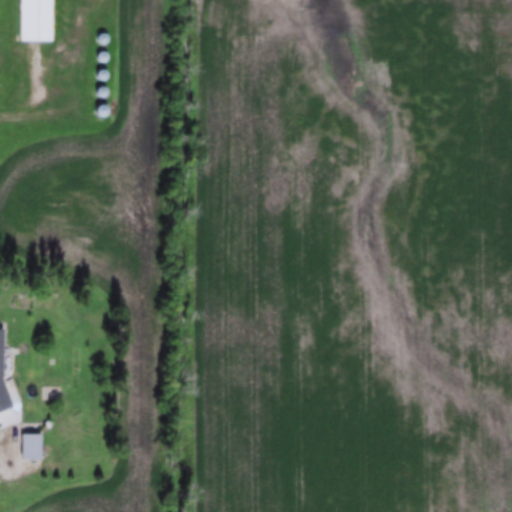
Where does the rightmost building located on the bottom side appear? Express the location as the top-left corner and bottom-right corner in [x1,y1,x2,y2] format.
[22,432,44,460]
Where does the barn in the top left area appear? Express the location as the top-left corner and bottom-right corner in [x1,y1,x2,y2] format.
[20,0,54,42]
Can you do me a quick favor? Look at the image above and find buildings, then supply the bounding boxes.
[22,432,44,460]
[20,0,54,42]
[0,332,12,410]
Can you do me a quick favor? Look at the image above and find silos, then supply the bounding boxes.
[95,86,110,100]
[96,50,110,64]
[96,32,110,47]
[96,104,110,118]
[95,68,110,82]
